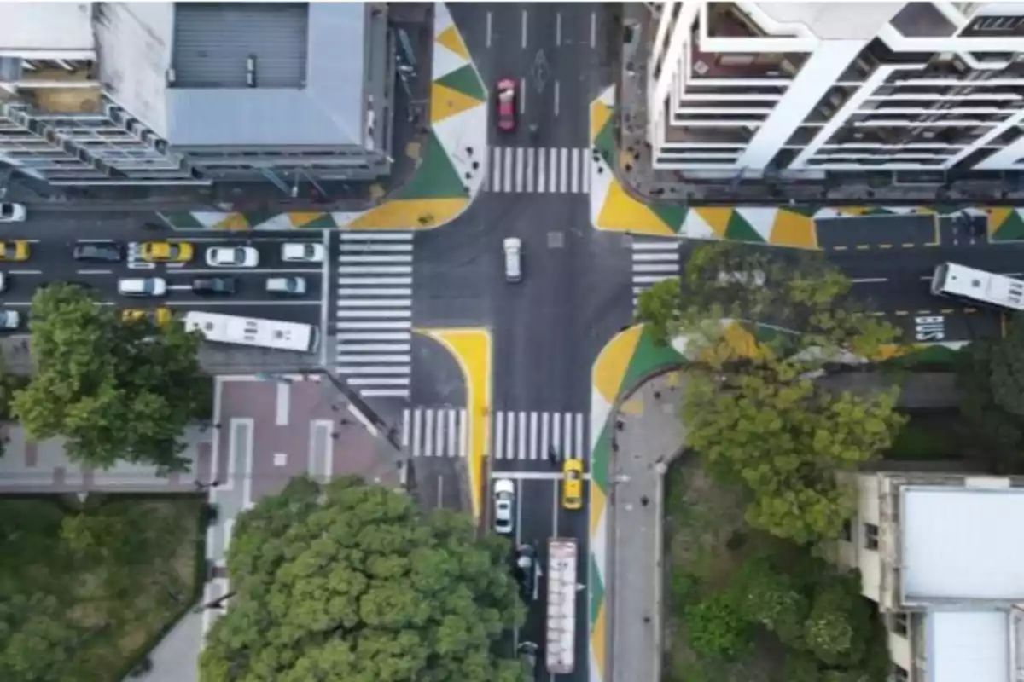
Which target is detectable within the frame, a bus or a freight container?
bus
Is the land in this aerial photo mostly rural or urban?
urban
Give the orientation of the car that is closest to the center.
vertically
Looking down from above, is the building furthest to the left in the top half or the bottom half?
top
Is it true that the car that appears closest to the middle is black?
No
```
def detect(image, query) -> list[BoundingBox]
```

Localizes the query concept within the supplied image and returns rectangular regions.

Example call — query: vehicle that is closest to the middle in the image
[502,238,523,283]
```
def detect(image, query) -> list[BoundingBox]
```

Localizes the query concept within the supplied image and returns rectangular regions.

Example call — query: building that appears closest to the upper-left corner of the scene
[0,0,213,194]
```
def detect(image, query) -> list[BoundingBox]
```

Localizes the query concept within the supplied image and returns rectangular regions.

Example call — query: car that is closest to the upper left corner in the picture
[0,201,30,223]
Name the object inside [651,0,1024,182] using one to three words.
building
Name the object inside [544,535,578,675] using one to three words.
bus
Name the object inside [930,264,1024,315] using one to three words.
bus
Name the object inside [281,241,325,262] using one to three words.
car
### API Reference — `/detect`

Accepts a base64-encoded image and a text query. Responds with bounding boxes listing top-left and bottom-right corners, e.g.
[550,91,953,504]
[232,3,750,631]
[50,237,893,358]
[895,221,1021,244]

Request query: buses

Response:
[185,312,321,356]
[930,264,1024,315]
[544,535,578,675]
